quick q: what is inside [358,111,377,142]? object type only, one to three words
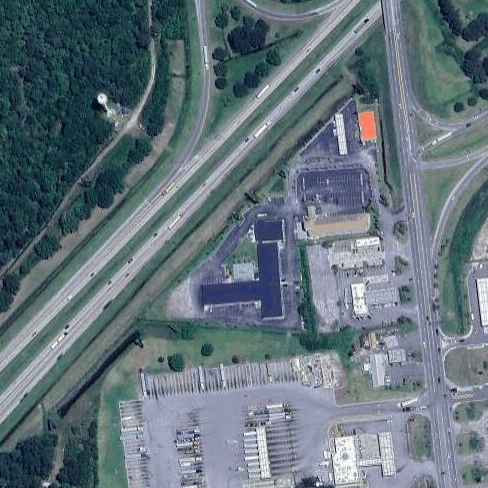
building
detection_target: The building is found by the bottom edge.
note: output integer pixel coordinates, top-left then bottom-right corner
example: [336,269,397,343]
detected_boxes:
[332,435,359,486]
